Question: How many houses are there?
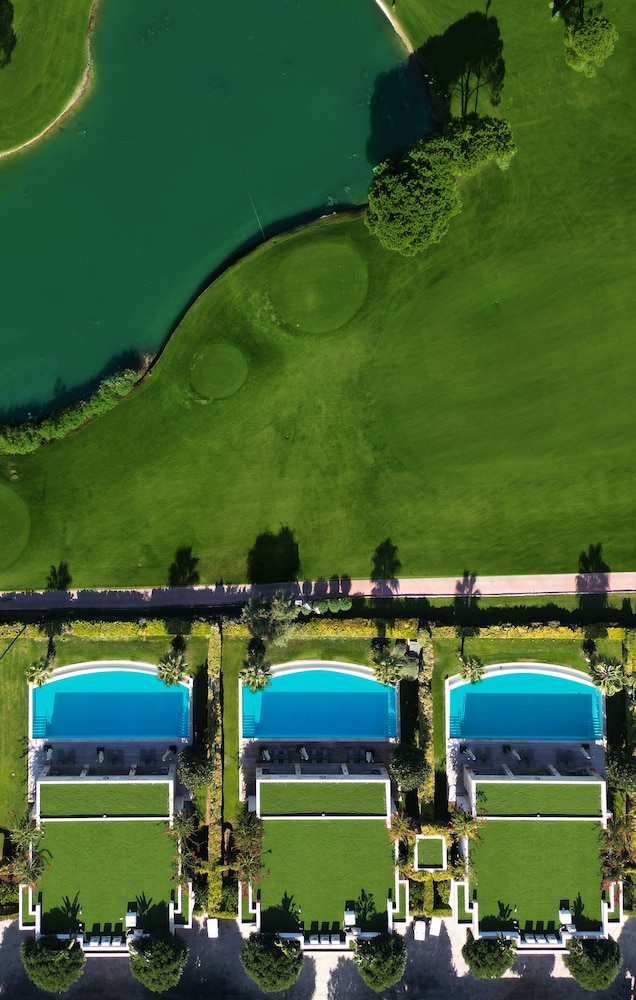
3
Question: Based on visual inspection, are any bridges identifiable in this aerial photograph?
No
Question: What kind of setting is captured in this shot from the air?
golf course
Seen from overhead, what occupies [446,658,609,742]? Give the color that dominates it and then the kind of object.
blue swimming pool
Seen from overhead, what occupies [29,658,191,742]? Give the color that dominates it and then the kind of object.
blue swimming pool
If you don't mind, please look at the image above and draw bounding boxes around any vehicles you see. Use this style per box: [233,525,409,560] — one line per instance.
[413,914,426,939]
[427,914,442,938]
[206,914,219,938]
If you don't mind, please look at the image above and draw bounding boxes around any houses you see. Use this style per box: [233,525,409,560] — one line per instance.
[451,764,627,956]
[20,764,196,956]
[238,764,409,956]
